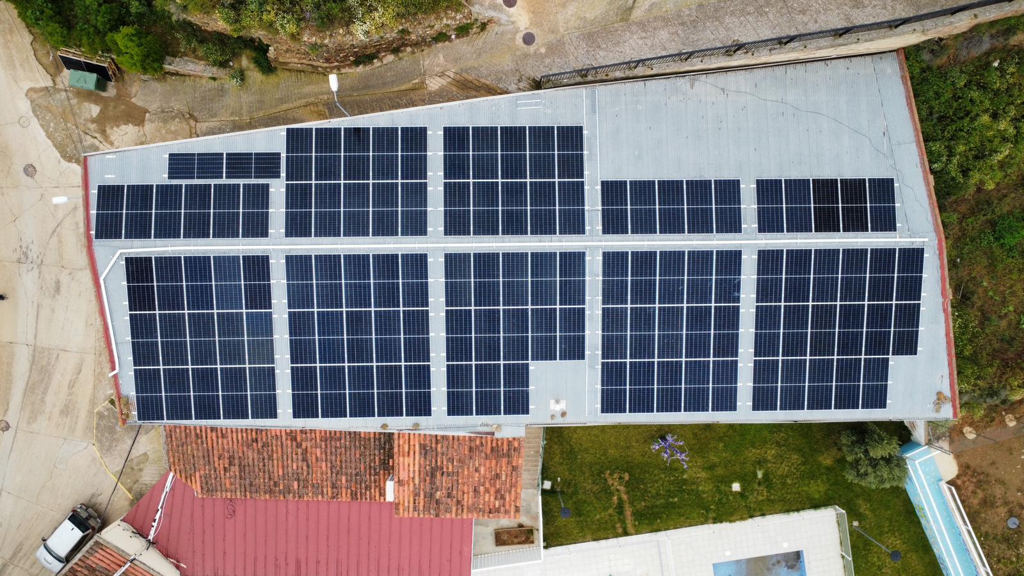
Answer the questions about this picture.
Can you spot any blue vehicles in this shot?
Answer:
No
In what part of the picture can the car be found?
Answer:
bottom left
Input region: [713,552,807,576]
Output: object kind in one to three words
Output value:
swimming pool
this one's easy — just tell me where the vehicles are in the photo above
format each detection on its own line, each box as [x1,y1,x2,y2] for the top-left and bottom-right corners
[41,500,106,565]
